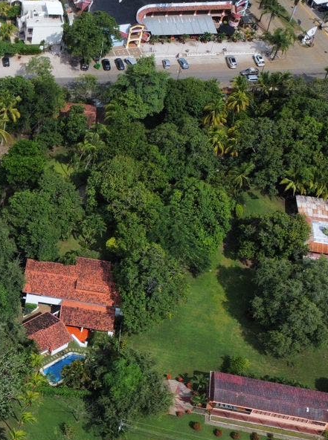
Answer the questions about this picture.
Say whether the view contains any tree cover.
Yes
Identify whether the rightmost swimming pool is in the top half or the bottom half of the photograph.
bottom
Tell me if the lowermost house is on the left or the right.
right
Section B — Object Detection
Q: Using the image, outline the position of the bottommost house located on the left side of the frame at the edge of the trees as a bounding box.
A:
[14,252,117,366]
